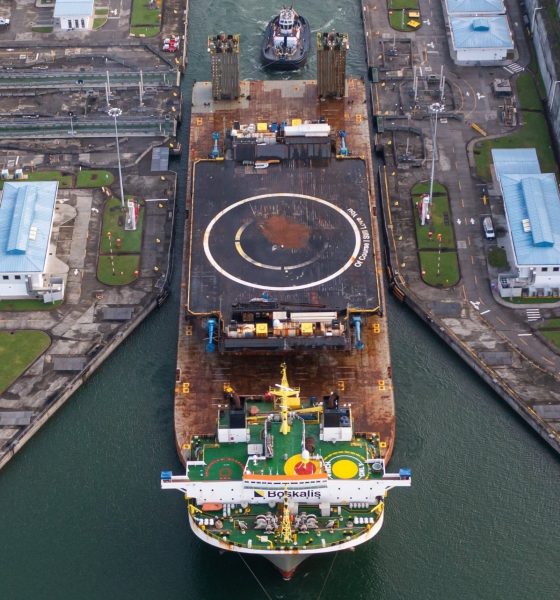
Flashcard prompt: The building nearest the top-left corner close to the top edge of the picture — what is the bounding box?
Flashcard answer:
[51,0,97,29]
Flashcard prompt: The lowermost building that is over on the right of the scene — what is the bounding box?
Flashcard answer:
[490,150,560,301]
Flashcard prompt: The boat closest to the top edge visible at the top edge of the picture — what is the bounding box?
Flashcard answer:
[257,4,310,77]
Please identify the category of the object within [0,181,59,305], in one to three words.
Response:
building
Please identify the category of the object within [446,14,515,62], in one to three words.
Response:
building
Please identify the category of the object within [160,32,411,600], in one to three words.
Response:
ship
